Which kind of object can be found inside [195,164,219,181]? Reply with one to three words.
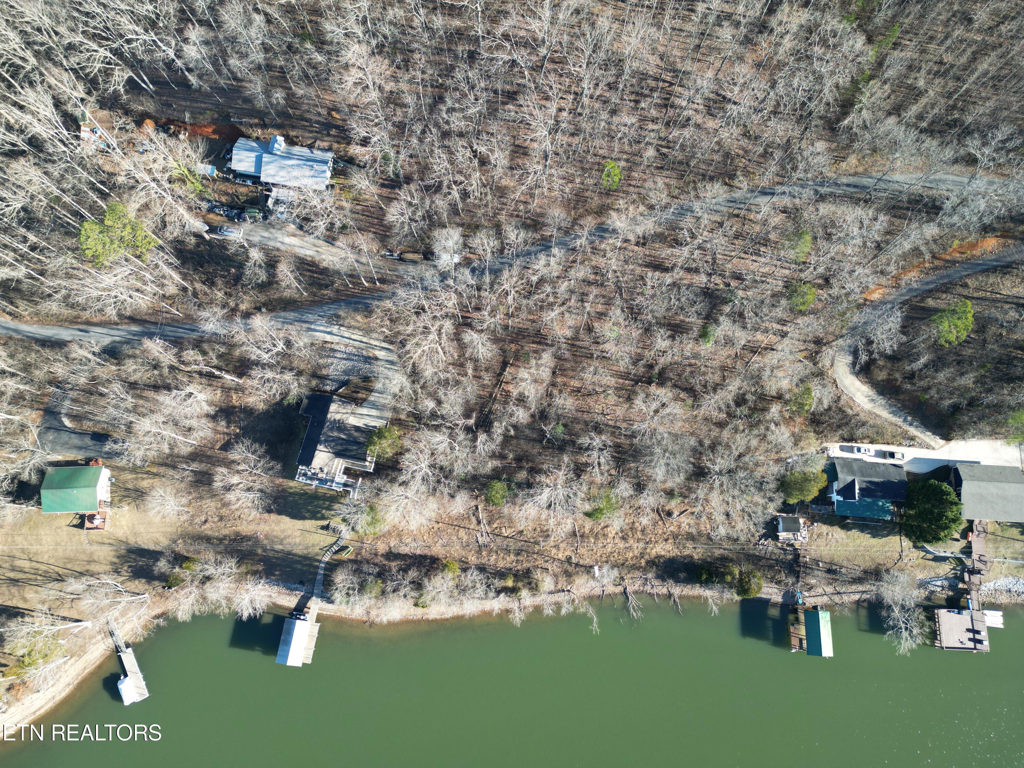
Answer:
shed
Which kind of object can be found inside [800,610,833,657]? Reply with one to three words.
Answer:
building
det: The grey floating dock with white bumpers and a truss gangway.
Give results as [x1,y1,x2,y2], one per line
[103,616,151,703]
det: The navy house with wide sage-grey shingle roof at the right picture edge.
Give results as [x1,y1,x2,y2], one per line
[949,463,1024,523]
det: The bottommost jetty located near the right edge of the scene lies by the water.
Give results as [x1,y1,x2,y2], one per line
[934,609,992,653]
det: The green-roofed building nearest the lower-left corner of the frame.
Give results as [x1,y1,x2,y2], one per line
[40,457,113,513]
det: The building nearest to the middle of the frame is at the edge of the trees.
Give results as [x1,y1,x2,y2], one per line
[297,393,371,472]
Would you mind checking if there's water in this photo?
Yes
